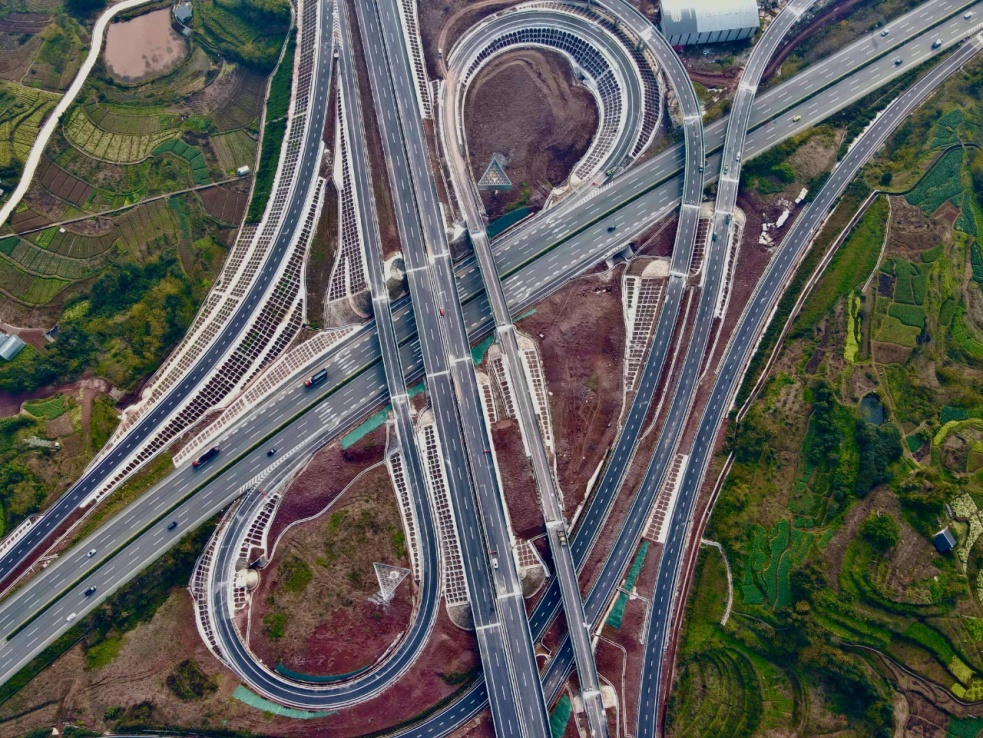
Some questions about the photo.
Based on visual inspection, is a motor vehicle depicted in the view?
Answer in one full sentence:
Yes, you can see a motor vehicle in this photo.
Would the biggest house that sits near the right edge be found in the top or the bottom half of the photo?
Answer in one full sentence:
The biggest house that sits near the right edge sits in the bottom half of the picture.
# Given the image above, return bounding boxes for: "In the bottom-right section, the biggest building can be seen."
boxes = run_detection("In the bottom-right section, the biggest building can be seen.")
[932,529,963,555]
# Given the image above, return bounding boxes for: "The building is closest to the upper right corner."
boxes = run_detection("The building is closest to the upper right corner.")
[663,0,760,47]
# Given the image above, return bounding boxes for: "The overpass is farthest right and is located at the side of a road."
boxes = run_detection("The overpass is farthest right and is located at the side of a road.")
[715,0,816,214]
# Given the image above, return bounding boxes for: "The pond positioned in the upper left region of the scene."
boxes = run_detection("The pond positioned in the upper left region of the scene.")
[106,9,186,83]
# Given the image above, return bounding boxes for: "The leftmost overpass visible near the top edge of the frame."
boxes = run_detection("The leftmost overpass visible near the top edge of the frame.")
[594,0,705,274]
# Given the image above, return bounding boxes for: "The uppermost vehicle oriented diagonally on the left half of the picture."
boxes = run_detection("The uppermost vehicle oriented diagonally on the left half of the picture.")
[304,368,327,386]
